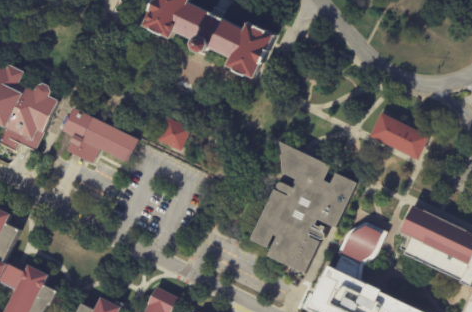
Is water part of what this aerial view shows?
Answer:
No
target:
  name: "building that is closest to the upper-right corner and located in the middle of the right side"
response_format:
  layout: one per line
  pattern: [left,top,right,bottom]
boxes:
[370,110,431,162]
